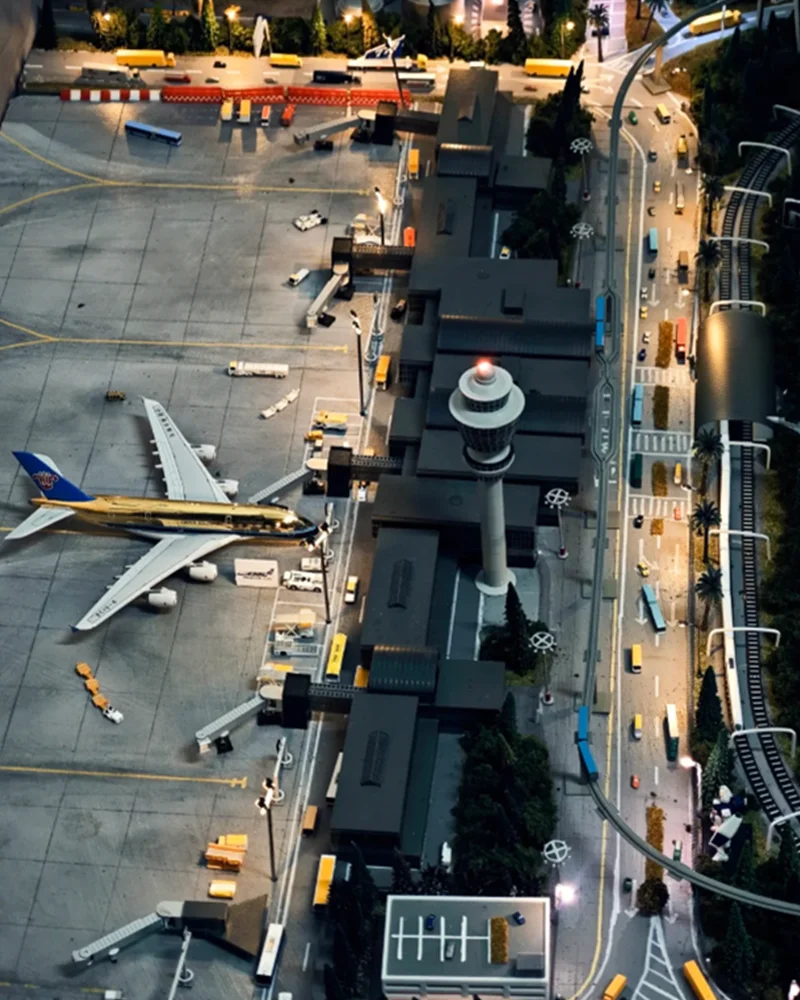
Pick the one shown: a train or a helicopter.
train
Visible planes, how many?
1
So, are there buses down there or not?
Yes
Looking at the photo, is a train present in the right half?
Yes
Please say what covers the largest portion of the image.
paved ground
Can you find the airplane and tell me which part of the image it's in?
left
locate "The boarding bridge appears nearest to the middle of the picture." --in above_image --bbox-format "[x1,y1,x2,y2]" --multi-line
[242,446,406,509]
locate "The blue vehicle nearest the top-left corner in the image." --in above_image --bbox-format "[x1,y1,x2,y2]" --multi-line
[125,123,185,144]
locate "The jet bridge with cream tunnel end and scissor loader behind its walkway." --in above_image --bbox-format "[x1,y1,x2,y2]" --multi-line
[302,239,414,332]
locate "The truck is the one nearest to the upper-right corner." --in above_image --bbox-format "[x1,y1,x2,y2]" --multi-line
[688,11,742,37]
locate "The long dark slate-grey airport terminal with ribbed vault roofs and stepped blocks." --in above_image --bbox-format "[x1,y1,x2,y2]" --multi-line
[333,69,594,879]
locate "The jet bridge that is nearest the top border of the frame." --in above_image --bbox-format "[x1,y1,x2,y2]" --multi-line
[289,102,444,149]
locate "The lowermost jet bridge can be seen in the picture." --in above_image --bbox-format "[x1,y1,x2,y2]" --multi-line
[64,895,269,974]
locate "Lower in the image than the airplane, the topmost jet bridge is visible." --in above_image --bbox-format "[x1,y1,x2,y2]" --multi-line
[189,671,362,756]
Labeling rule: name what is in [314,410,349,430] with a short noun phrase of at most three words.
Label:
vehicle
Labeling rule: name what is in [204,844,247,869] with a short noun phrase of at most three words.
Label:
work vehicle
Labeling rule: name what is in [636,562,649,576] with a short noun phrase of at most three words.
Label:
vehicle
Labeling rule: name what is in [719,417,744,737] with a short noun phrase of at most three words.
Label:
train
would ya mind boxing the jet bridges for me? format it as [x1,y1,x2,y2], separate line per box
[242,446,406,509]
[302,239,414,332]
[189,671,362,756]
[289,102,444,149]
[64,895,269,974]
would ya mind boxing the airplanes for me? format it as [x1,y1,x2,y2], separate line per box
[6,394,317,627]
